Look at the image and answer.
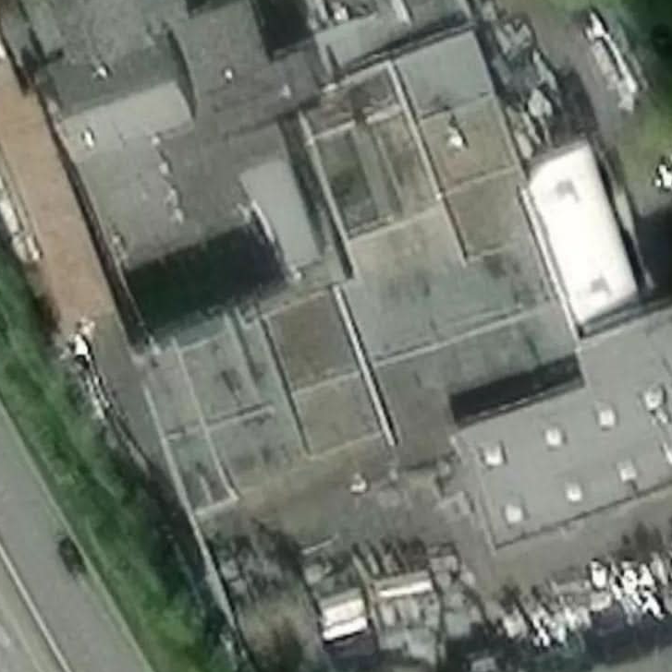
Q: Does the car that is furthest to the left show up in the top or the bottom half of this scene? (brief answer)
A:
bottom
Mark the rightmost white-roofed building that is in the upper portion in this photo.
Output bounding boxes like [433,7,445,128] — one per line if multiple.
[528,136,642,330]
